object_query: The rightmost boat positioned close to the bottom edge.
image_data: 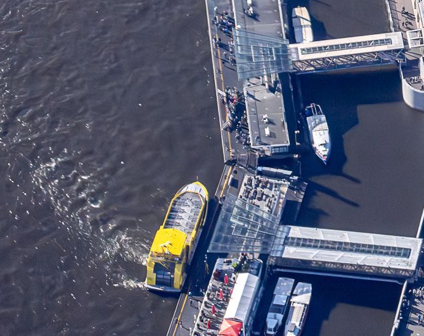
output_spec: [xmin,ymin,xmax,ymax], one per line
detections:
[285,280,314,336]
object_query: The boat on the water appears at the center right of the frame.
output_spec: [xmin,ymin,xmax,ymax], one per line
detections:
[306,107,333,166]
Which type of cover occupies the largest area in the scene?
water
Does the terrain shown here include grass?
No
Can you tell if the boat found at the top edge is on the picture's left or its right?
right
